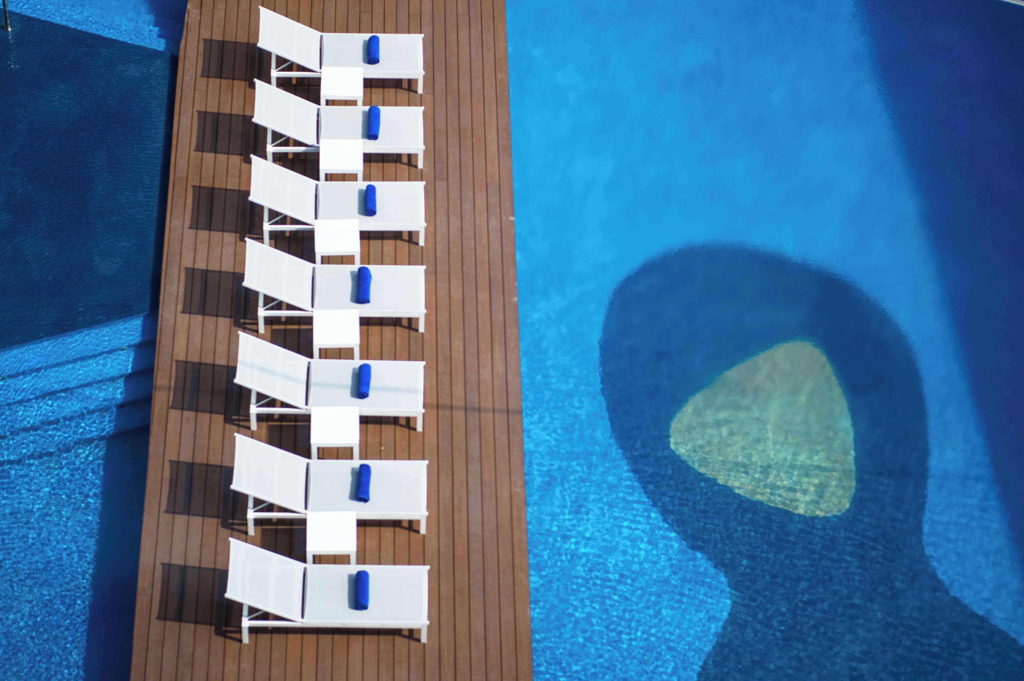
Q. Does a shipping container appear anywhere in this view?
No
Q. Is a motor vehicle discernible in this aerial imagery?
No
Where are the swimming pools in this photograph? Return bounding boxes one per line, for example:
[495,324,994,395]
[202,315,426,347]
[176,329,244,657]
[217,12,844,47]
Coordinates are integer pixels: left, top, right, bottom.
[0,0,188,681]
[505,0,1024,681]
